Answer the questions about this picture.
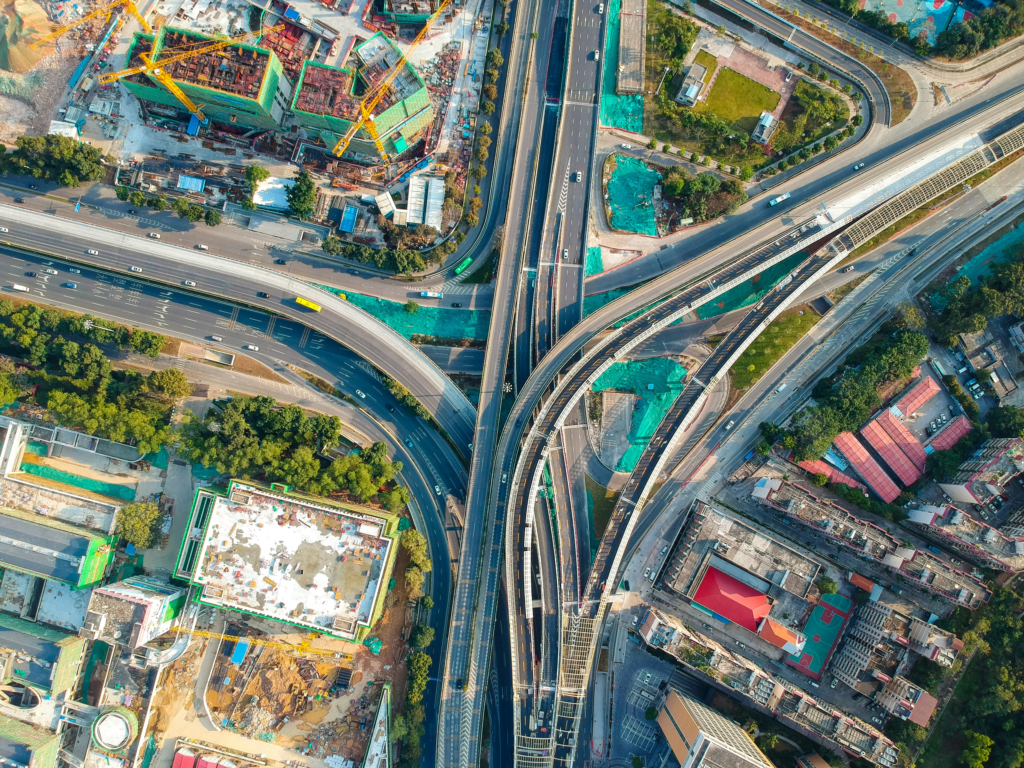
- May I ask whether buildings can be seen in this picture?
Yes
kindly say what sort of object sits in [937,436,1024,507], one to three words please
building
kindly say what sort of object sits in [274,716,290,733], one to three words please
vehicle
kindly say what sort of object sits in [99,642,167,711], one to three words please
house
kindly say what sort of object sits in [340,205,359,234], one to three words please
shed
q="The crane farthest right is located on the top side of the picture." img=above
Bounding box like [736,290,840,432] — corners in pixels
[333,0,454,169]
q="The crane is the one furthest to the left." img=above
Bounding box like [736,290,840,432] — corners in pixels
[30,0,160,50]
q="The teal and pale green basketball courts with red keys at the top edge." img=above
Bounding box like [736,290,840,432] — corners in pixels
[853,0,972,48]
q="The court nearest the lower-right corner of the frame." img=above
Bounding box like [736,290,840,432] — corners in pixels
[786,594,857,680]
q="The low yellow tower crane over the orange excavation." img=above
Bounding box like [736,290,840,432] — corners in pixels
[165,627,351,662]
